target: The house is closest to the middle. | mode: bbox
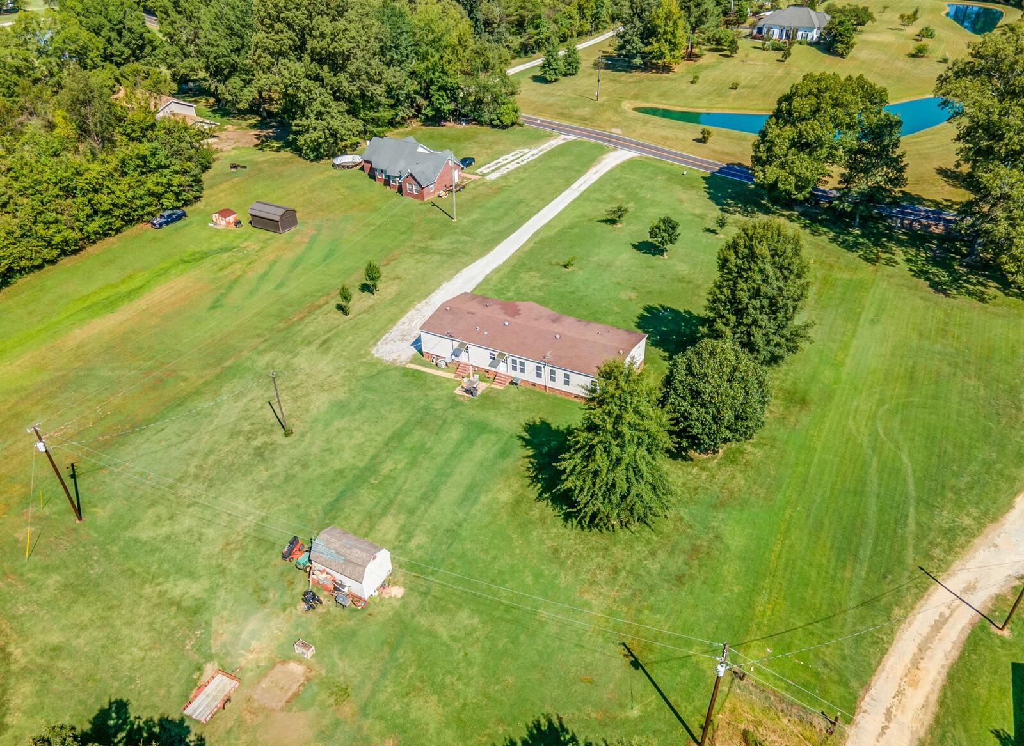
[418,291,651,405]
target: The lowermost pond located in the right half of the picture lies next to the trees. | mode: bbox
[634,99,960,137]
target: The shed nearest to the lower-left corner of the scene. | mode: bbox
[314,526,392,598]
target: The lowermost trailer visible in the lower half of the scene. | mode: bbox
[184,666,243,725]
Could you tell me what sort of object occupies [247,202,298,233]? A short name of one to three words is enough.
shed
